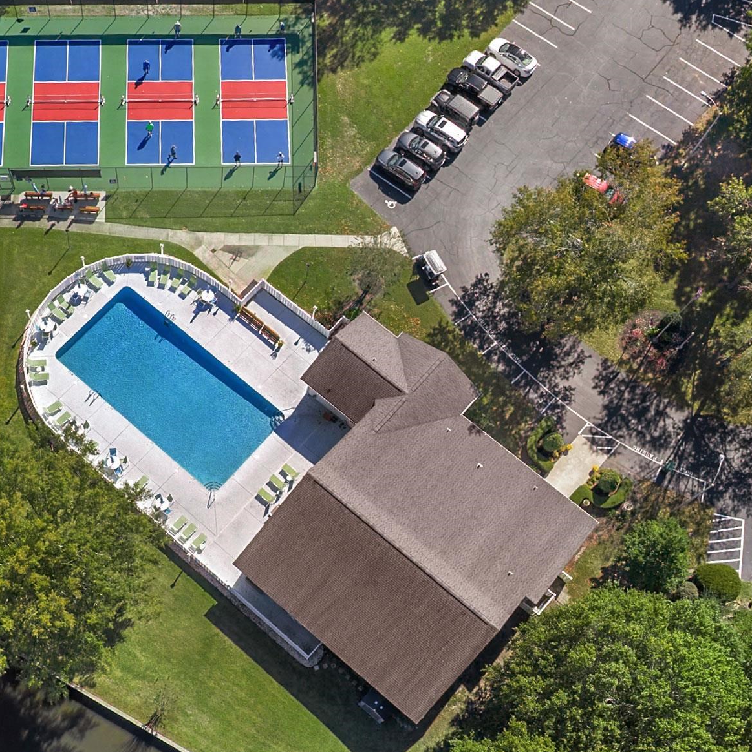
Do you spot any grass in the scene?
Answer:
Yes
